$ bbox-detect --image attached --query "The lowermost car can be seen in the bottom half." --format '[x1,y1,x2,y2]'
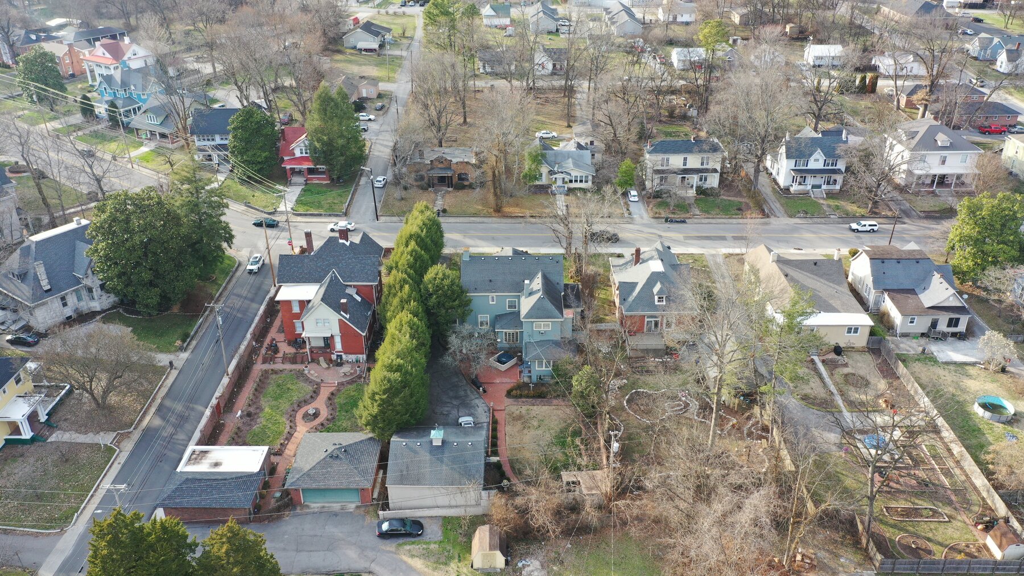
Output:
[372,518,423,540]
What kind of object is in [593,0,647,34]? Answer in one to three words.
house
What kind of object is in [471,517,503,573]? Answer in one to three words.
shed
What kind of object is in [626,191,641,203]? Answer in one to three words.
vehicle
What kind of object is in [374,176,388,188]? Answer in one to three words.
vehicle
